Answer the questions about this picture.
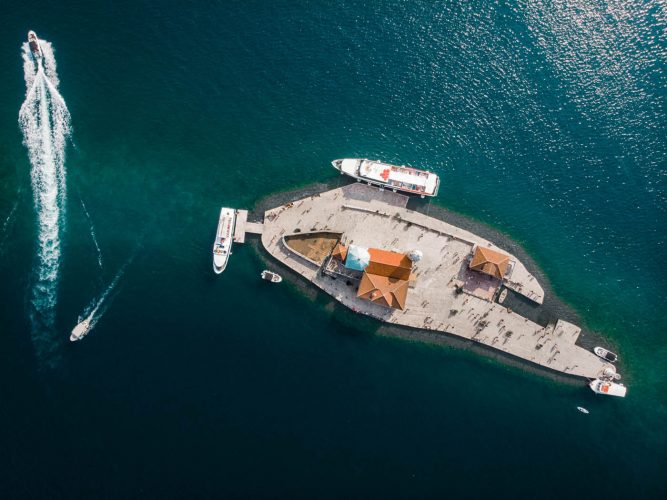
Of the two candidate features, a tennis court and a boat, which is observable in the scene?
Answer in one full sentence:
The one in the frame is a boat.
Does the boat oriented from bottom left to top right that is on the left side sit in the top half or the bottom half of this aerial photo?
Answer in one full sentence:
The bottom half of the photo is where the boat oriented from bottom left to top right that is on the left side is.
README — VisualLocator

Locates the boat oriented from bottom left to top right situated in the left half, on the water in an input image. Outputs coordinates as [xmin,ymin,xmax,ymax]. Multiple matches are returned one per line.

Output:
[70,315,94,341]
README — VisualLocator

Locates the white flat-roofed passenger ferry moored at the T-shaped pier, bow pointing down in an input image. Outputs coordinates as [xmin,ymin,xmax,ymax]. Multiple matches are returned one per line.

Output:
[214,207,236,274]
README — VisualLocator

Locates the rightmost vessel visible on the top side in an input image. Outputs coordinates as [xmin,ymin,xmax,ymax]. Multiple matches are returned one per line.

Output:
[332,158,442,197]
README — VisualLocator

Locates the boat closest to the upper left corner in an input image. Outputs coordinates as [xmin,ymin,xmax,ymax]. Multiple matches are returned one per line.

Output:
[31,31,46,61]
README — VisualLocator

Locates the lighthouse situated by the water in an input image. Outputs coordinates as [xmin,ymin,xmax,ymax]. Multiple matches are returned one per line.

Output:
[604,366,622,379]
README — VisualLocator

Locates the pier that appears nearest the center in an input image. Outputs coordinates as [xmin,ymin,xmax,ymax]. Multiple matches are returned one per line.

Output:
[234,210,263,243]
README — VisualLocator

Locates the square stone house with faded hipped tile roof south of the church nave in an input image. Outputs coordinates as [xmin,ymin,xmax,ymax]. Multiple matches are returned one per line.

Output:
[357,271,409,310]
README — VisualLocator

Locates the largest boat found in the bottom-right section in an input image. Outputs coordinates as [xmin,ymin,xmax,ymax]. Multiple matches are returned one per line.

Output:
[588,380,628,397]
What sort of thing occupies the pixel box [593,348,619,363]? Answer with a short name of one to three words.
boat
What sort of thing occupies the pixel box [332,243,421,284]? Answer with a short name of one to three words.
building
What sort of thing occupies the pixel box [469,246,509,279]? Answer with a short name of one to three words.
building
